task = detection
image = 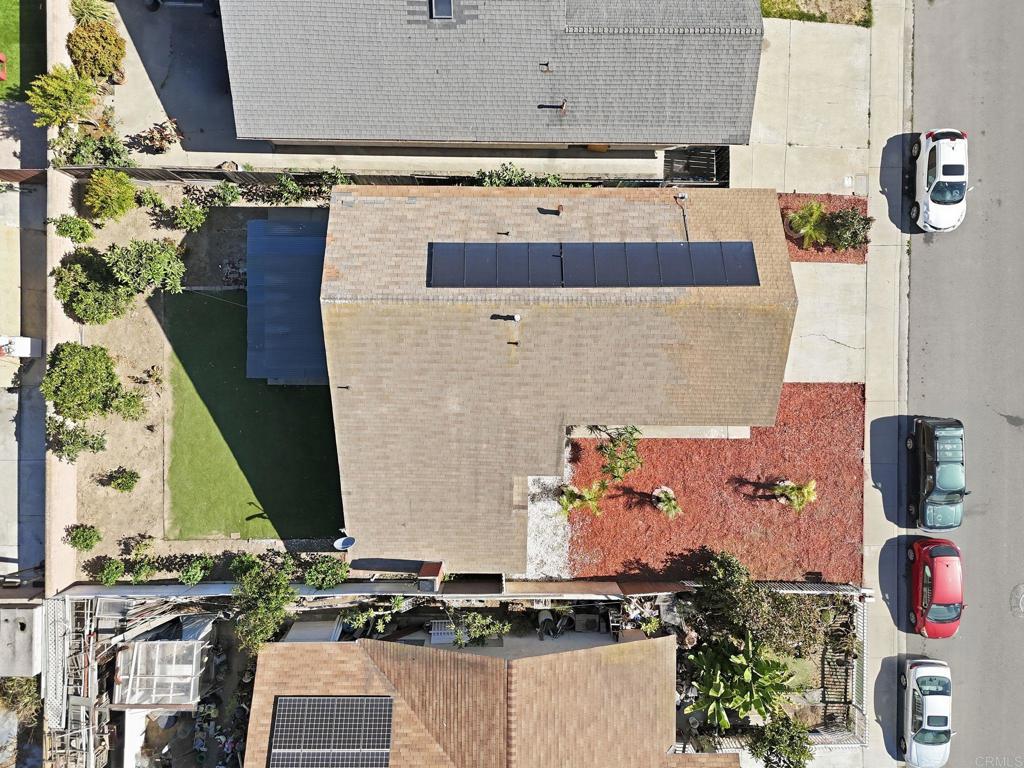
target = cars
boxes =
[911,129,974,234]
[906,416,966,531]
[899,653,958,768]
[908,535,968,637]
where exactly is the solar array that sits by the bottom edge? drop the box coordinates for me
[265,696,391,768]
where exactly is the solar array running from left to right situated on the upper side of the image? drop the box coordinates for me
[431,243,759,290]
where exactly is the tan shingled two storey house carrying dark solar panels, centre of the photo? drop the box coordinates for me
[319,185,798,590]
